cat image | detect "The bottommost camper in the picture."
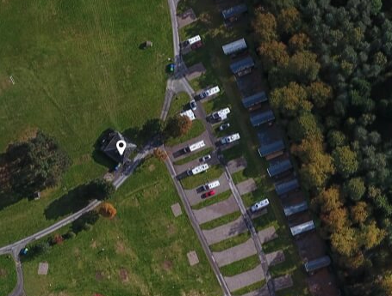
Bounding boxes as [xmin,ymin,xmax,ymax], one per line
[305,257,328,272]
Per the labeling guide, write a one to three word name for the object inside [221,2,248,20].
camper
